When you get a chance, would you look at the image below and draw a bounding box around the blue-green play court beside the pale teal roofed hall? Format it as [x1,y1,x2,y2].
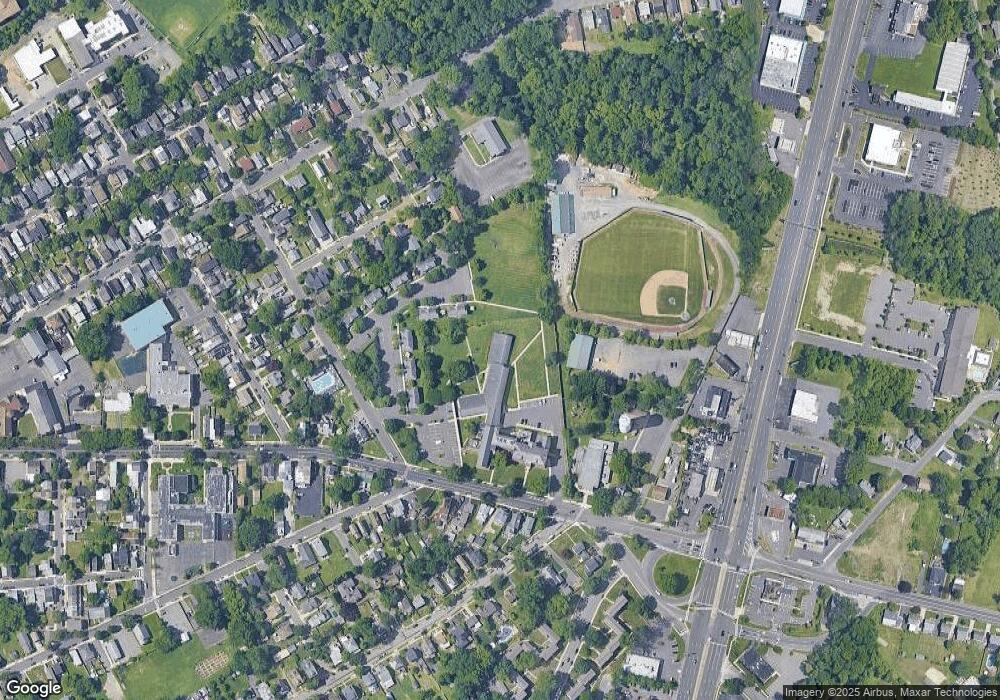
[120,352,146,376]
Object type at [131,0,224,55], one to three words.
baseball field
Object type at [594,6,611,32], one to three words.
house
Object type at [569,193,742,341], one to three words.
baseball field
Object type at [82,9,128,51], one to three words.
building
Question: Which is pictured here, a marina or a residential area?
residential area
